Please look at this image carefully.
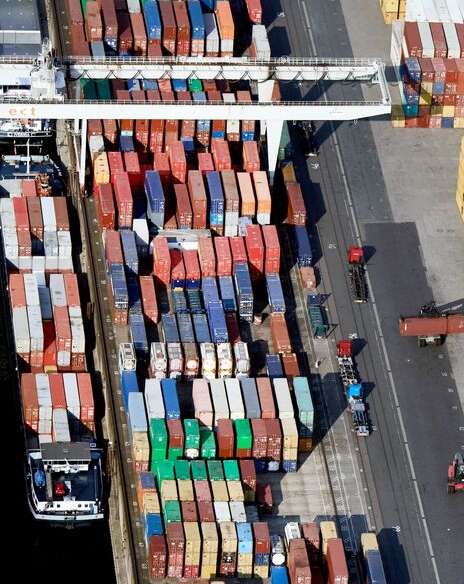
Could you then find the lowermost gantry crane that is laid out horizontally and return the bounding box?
[0,51,392,195]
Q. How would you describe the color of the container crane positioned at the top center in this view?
white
